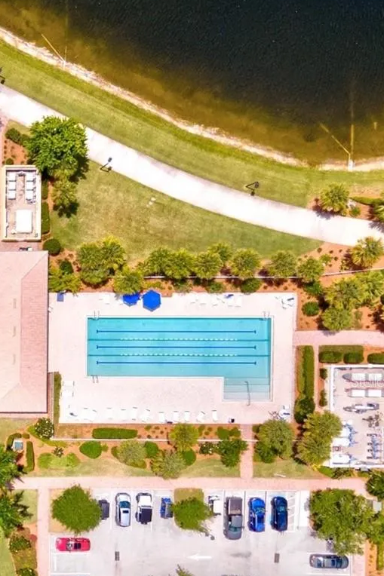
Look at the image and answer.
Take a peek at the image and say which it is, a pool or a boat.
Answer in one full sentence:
I can see a pool in this picture.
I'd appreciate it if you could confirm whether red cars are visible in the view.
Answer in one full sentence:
Yes, I can see a red car in this picture.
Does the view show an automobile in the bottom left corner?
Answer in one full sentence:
Yes, an automobile is visible in the bottom left corner.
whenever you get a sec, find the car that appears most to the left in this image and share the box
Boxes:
[54,536,90,552]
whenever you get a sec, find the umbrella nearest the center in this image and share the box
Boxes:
[141,290,160,311]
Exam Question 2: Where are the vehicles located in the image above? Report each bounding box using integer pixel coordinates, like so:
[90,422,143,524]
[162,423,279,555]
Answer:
[95,497,110,518]
[157,496,172,517]
[246,497,265,531]
[223,496,244,538]
[269,496,289,531]
[134,492,152,524]
[54,536,90,552]
[307,552,347,569]
[114,491,133,527]
[206,494,221,515]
